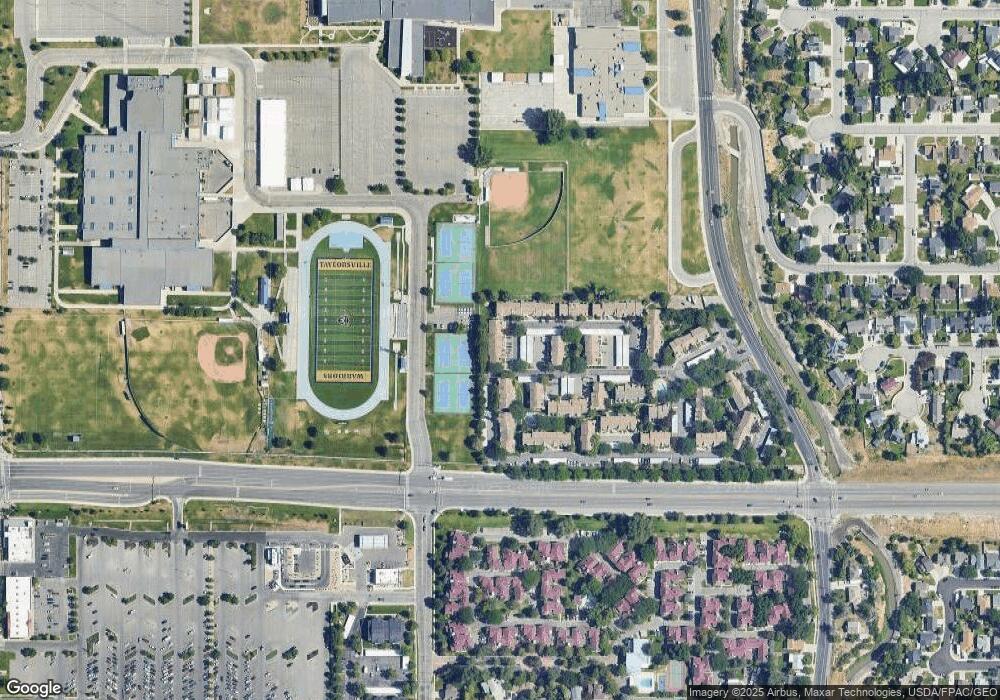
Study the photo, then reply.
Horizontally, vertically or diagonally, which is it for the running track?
vertically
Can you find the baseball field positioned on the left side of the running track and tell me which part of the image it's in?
left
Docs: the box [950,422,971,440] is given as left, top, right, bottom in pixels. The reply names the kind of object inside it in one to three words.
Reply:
house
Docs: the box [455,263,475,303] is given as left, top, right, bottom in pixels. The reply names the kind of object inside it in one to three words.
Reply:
tennis court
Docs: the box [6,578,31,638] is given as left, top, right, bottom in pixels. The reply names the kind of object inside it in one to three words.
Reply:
building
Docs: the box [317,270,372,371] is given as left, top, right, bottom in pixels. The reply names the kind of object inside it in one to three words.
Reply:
sports field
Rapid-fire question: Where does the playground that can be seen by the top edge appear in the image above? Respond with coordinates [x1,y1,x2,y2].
[424,26,456,47]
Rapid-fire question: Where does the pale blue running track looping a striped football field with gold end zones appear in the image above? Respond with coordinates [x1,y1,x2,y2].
[296,222,393,420]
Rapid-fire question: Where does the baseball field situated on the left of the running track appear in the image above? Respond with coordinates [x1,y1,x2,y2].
[198,333,248,382]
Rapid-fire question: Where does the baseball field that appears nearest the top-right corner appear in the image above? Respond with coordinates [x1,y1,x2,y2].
[491,173,528,213]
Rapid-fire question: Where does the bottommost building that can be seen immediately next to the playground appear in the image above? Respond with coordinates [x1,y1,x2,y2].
[388,19,424,77]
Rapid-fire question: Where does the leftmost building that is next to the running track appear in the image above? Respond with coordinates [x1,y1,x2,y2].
[83,75,213,306]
